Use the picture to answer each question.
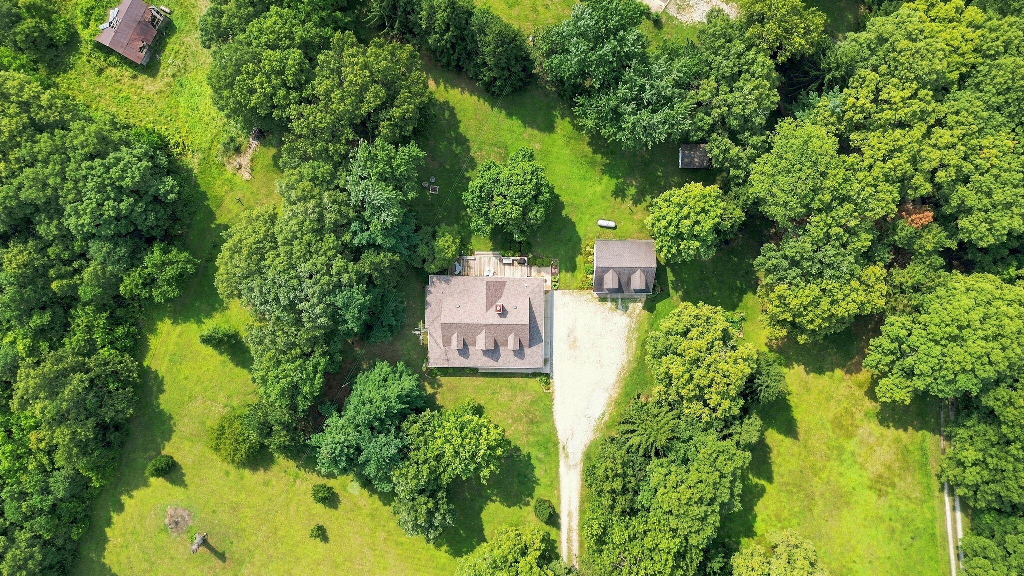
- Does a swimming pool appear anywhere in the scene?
No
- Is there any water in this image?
No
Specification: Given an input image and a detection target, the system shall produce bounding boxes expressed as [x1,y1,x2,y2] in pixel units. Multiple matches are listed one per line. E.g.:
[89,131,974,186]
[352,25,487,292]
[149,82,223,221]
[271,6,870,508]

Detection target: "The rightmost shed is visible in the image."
[678,144,712,169]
